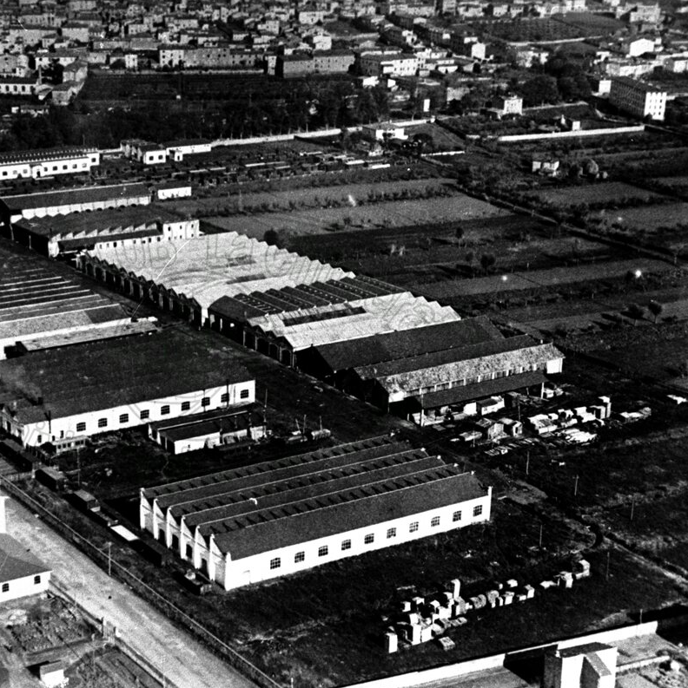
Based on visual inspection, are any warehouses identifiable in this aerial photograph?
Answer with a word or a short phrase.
Yes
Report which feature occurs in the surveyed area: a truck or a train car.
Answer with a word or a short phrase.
train car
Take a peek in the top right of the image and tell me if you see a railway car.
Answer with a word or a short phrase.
No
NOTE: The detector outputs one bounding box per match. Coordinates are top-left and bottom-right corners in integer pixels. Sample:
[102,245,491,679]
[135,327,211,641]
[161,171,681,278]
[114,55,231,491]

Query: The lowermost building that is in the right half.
[544,628,626,688]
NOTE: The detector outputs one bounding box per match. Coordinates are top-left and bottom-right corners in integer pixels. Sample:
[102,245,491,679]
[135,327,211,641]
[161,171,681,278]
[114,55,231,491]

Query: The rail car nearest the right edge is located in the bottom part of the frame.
[166,565,205,591]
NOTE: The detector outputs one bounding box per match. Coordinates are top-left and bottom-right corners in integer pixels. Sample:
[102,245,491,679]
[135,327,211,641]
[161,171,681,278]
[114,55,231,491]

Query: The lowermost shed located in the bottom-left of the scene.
[37,663,66,687]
